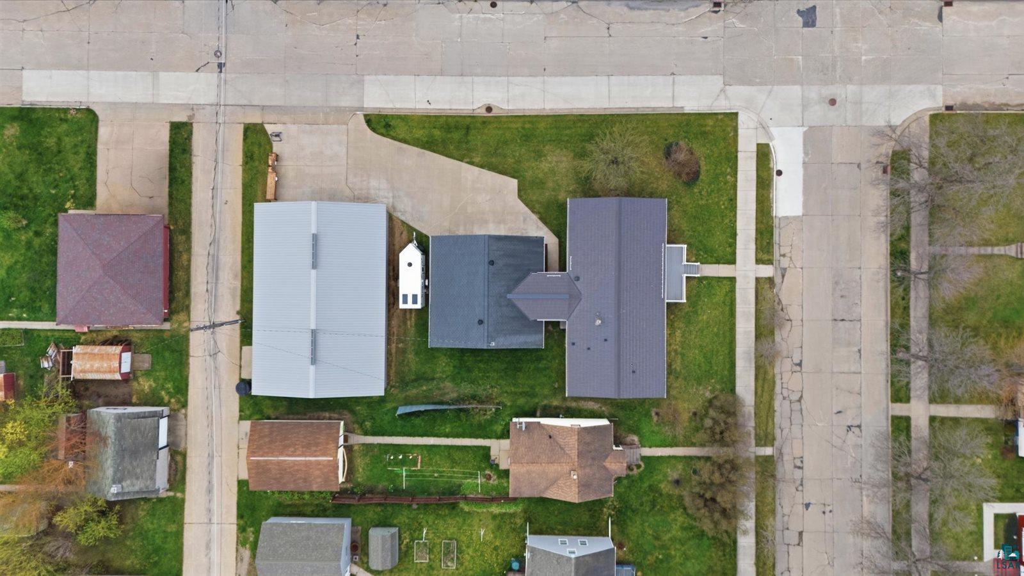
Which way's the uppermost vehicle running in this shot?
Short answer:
up and down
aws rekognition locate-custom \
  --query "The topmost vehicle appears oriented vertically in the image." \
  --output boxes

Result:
[397,231,428,308]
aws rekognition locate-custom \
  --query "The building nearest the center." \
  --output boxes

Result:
[428,235,545,350]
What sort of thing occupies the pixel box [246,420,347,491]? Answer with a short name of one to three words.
building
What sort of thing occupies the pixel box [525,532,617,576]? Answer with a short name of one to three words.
house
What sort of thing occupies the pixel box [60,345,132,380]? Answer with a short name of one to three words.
shed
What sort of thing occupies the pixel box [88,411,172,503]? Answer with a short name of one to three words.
building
